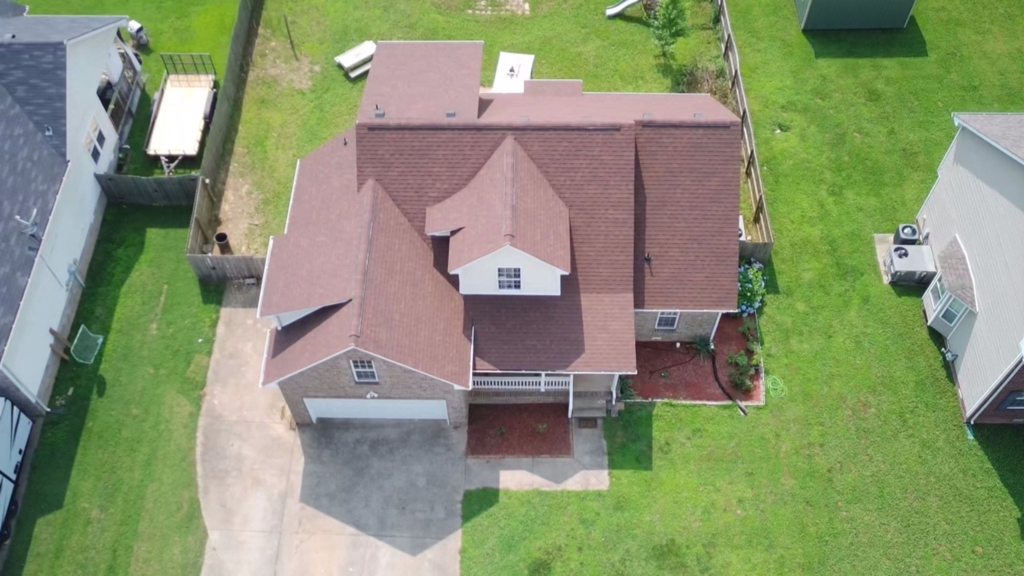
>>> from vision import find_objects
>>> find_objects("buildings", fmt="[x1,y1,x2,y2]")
[255,39,741,426]
[914,112,1024,428]
[795,0,920,29]
[0,0,140,414]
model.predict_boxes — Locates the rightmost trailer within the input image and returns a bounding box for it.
[143,56,218,176]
